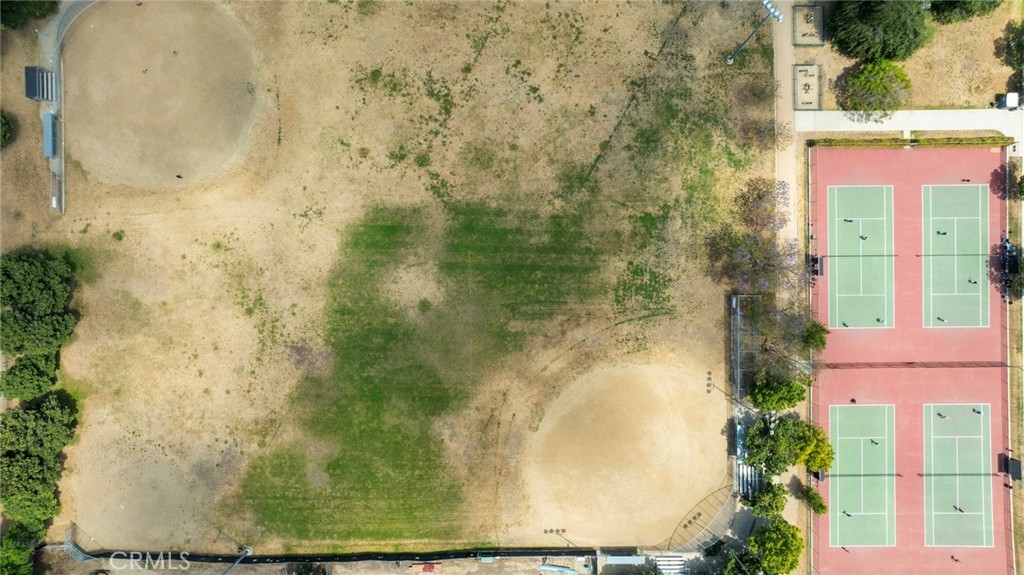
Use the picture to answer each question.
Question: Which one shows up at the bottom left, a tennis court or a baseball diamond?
baseball diamond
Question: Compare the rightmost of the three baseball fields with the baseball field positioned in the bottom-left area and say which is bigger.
the rightmost of the three baseball fields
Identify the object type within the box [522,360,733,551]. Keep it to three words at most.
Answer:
baseball field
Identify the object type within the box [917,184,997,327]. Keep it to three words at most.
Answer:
tennis court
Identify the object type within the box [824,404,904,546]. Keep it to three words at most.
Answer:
tennis court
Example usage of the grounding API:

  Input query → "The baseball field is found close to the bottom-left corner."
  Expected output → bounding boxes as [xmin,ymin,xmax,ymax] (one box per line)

[76,440,222,554]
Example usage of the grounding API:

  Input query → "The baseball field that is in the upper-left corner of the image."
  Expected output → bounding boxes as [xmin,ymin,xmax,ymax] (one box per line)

[62,0,258,190]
